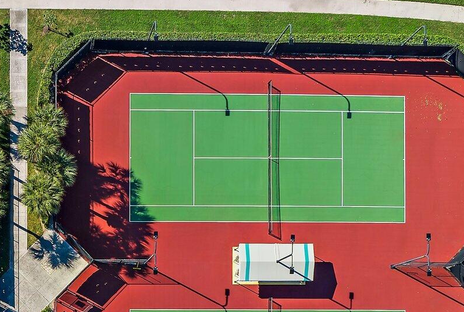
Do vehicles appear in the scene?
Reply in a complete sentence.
No, this view has no vehicle in it.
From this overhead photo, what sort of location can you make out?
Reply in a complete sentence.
It's a sports ground.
